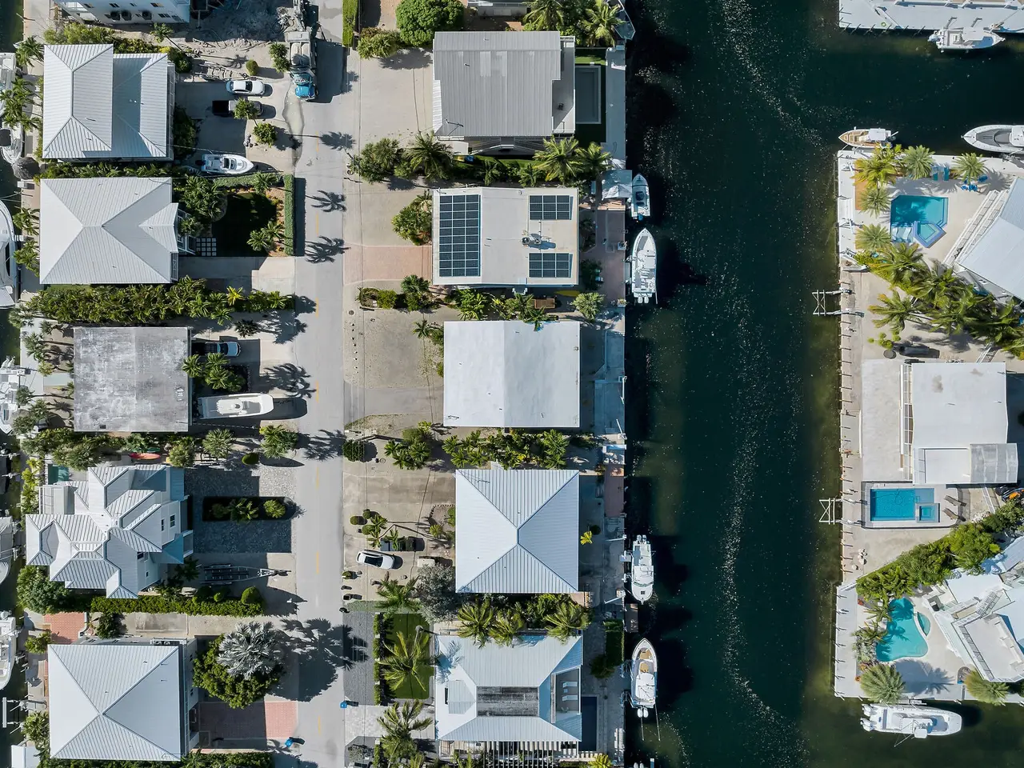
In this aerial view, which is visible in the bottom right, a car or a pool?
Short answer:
pool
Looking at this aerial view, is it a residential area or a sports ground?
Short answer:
residential area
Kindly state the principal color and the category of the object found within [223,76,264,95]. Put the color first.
white car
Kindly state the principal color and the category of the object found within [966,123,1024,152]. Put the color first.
white boat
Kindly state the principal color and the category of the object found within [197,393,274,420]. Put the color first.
white boat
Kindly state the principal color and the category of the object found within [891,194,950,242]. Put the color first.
blue swimming pool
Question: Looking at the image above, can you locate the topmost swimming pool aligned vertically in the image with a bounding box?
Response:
[576,63,602,124]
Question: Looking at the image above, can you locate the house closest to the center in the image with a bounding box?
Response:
[443,322,580,427]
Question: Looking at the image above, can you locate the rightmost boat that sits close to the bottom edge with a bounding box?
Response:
[863,707,968,743]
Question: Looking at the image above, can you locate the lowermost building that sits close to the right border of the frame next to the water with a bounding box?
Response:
[922,524,1024,683]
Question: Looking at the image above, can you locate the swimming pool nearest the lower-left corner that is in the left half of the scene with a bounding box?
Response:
[44,462,70,482]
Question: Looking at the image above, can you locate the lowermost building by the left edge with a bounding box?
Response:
[48,635,198,762]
